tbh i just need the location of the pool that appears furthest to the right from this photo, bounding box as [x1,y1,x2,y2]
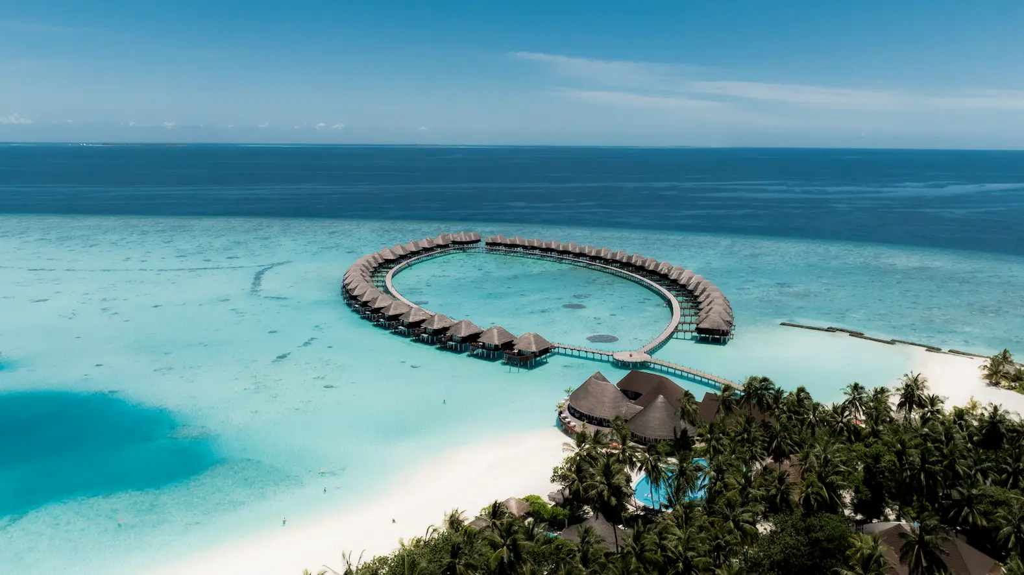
[631,456,747,510]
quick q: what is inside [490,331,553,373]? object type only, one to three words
house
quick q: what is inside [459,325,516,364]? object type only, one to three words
house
